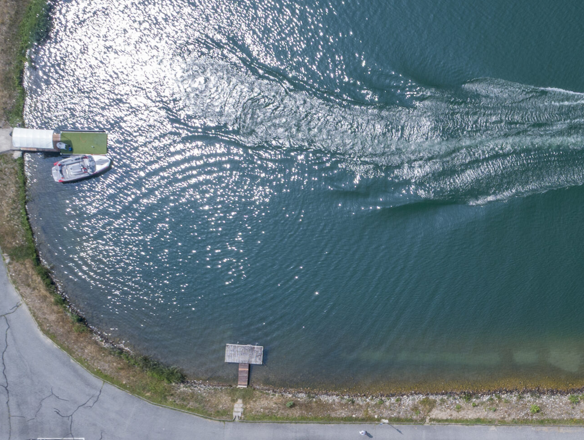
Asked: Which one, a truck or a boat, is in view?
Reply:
boat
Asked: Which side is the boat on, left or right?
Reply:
left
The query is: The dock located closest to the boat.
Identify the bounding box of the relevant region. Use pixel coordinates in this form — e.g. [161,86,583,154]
[61,130,109,155]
